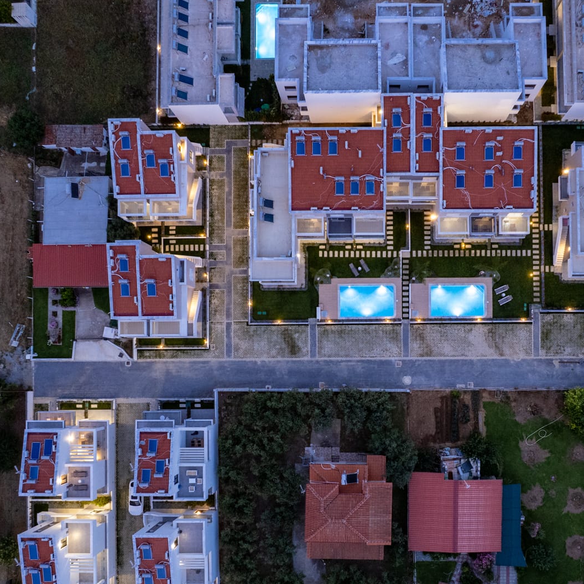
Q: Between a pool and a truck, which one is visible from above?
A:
pool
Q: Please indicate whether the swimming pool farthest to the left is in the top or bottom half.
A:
top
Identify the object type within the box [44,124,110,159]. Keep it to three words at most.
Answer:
shed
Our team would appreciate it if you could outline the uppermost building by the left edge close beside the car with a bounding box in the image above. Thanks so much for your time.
[19,409,120,500]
